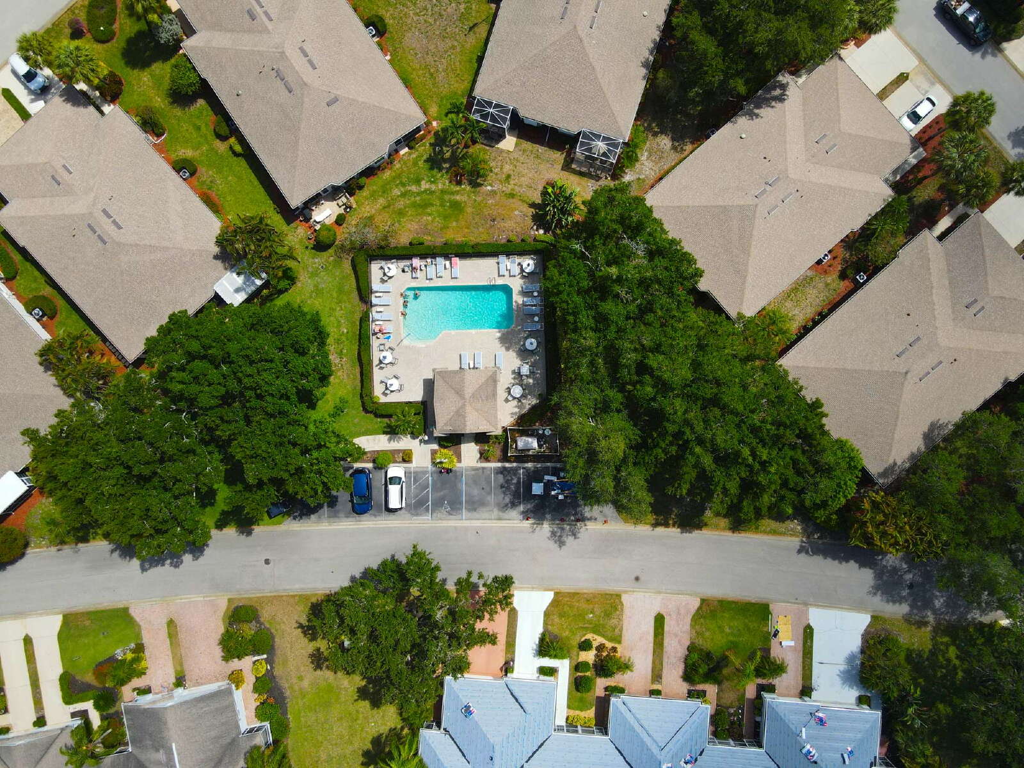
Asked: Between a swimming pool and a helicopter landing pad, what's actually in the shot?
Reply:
swimming pool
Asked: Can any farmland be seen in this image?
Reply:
No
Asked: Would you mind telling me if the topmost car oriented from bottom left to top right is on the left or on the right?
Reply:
right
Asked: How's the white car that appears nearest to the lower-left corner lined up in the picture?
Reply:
vertically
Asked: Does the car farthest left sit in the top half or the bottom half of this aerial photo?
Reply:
top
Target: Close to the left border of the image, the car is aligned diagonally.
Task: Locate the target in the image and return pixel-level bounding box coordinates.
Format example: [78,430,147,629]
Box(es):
[6,51,51,98]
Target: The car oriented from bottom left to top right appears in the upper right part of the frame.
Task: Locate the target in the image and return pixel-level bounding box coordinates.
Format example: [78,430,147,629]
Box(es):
[898,91,943,134]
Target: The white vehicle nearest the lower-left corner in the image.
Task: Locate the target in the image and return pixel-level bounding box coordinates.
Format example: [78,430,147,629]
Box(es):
[383,464,406,512]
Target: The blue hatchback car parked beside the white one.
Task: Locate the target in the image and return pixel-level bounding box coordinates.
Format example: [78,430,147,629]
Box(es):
[349,467,372,514]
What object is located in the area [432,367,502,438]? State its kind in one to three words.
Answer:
building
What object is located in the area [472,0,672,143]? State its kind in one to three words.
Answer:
house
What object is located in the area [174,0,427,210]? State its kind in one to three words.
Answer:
house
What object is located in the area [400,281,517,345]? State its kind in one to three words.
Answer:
swimming pool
